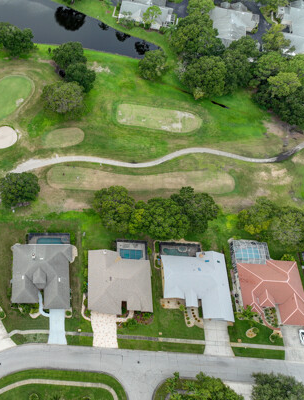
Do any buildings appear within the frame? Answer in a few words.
Yes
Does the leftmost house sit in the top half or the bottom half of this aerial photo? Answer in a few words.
bottom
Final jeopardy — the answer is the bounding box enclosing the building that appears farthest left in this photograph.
[9,245,72,310]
